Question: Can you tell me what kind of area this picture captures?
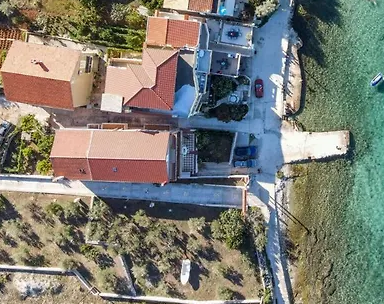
residential area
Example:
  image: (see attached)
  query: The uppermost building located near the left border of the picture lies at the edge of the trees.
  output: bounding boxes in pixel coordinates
[1,40,100,109]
